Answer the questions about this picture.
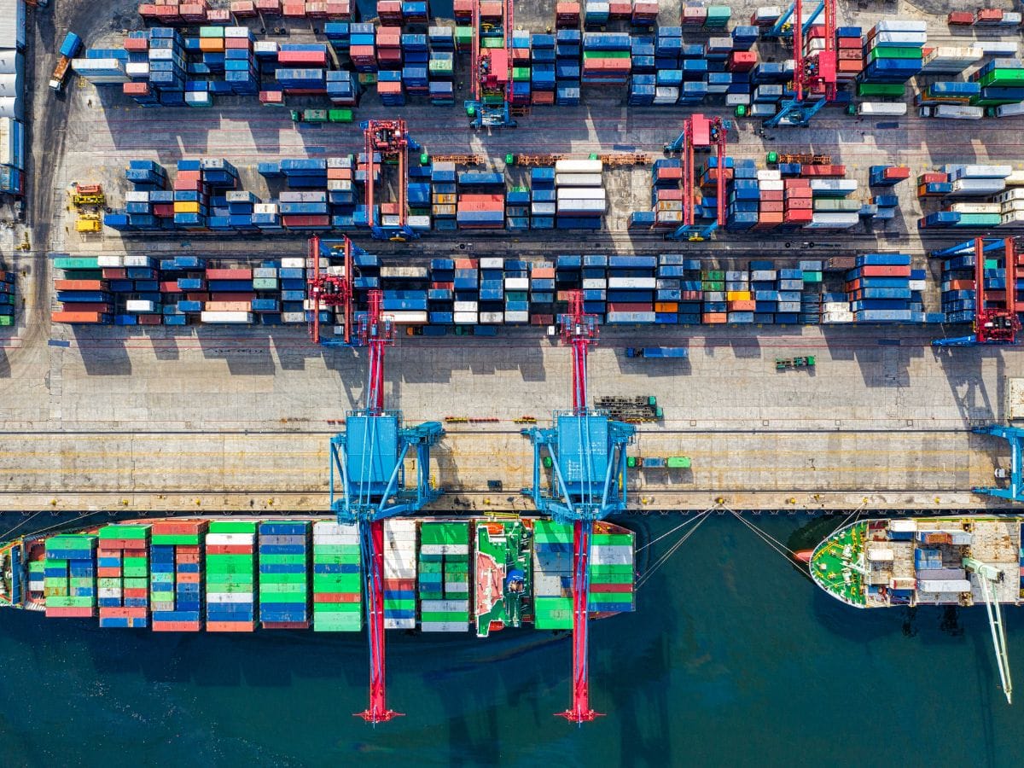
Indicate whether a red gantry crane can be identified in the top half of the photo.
Yes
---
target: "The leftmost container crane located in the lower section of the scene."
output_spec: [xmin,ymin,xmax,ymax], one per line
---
[330,290,450,735]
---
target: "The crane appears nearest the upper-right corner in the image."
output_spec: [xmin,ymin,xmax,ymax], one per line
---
[764,0,838,129]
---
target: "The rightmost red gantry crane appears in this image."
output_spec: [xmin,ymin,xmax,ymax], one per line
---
[932,237,1018,351]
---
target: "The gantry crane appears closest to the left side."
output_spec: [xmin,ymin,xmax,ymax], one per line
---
[306,237,373,349]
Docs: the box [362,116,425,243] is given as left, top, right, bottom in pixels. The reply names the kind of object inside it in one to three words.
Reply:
container crane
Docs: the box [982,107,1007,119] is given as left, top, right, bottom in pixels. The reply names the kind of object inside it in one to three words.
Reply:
vehicle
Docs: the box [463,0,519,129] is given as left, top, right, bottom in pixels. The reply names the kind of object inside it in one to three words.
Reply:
container crane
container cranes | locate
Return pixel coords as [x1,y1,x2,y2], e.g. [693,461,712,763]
[974,431,1024,501]
[463,0,519,129]
[932,237,1018,351]
[306,237,373,349]
[362,116,425,243]
[521,290,631,735]
[330,290,450,735]
[664,112,735,243]
[764,0,838,129]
